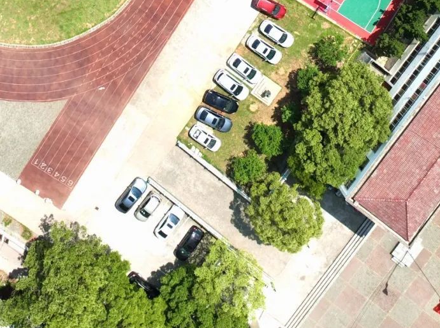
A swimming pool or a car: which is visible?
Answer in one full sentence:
There is a car in the scene.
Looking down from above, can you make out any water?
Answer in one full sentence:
No, water can't be seen anywhere here.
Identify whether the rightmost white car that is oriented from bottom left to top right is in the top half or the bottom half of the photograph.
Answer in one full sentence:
Seen from above, the rightmost white car that is oriented from bottom left to top right lies in the bottom half of the view.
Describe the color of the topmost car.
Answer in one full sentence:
The color of the topmost car is red.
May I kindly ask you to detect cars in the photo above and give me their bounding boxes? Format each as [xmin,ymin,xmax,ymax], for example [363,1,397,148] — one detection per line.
[201,87,239,115]
[127,268,161,297]
[244,35,282,63]
[256,19,294,48]
[173,224,204,263]
[185,123,224,151]
[225,54,262,83]
[194,104,232,132]
[135,188,164,223]
[116,176,147,214]
[153,202,184,242]
[212,68,249,99]
[249,0,287,20]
